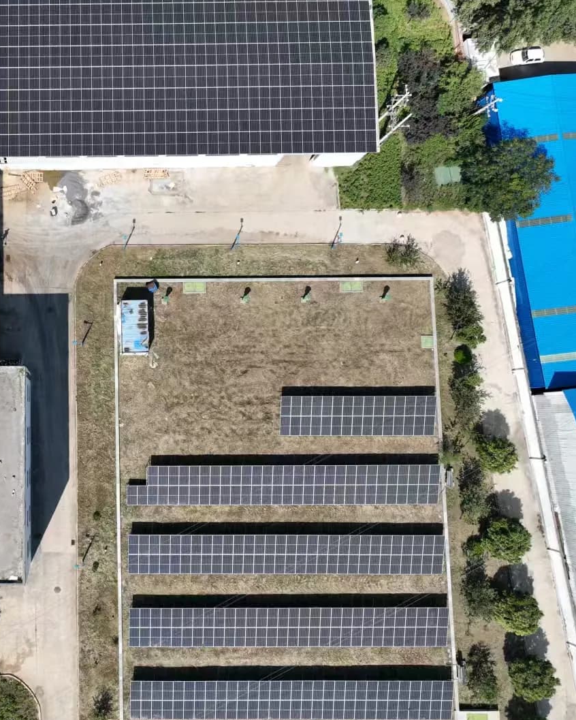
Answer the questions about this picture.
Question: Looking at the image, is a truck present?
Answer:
No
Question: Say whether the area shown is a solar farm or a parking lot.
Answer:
solar farm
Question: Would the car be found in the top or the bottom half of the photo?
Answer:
top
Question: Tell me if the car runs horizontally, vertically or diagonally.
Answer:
horizontally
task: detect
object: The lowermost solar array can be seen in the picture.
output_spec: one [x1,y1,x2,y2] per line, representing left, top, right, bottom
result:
[131,680,453,720]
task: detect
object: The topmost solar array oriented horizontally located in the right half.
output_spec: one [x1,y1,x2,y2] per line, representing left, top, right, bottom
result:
[281,396,436,436]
